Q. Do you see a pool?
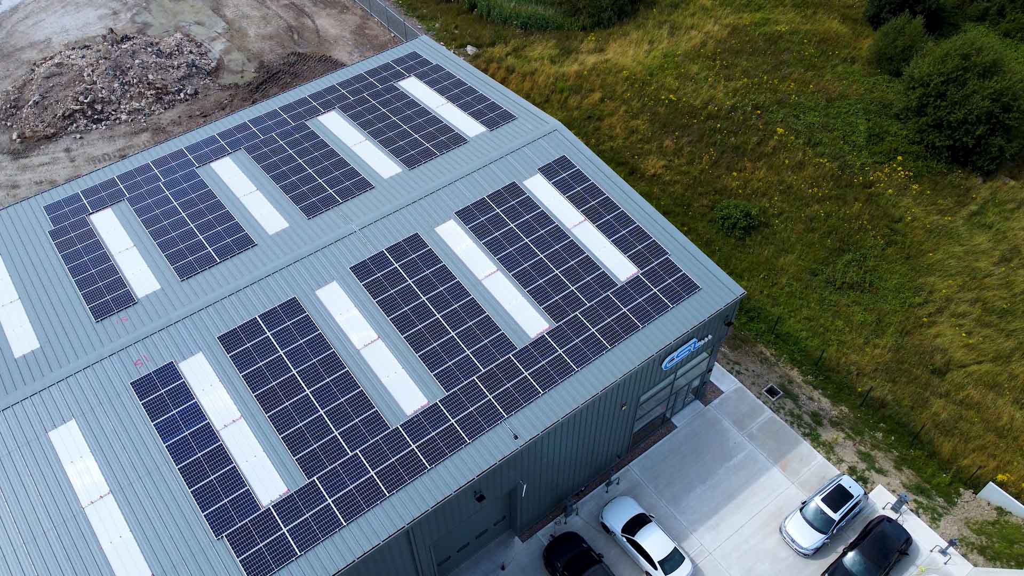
No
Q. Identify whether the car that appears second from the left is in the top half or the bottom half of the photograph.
bottom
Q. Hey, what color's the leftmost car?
black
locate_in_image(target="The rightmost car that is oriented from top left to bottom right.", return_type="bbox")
[600,496,690,576]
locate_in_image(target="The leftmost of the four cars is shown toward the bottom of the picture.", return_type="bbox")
[545,532,614,576]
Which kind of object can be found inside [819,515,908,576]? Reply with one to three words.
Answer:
car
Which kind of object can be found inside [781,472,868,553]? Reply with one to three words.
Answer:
car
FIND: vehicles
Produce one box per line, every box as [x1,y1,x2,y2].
[781,472,868,553]
[545,532,614,576]
[819,515,908,576]
[600,496,690,576]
